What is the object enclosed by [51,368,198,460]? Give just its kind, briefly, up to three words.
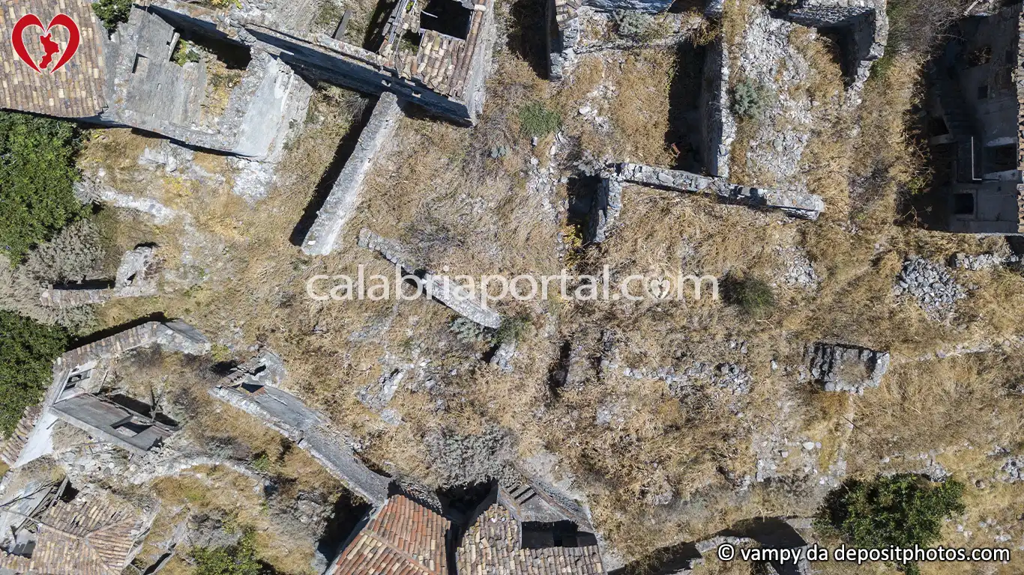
house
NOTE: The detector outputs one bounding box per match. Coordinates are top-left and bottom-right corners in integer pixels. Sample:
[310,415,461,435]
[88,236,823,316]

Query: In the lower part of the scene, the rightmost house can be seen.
[453,485,605,575]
